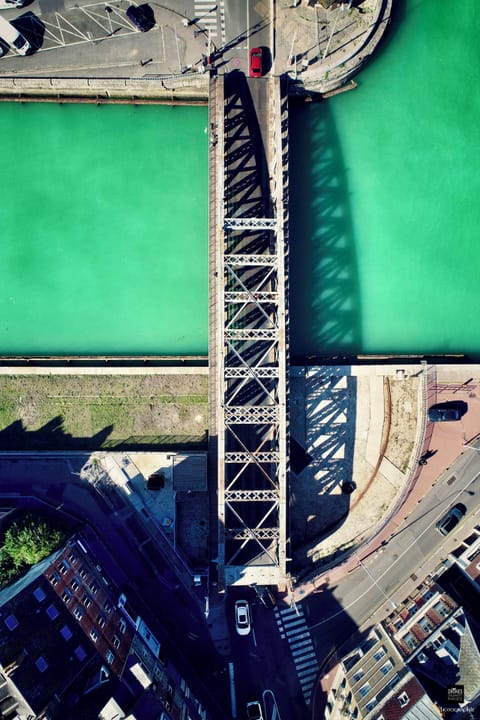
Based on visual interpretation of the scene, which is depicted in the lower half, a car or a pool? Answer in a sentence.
What appears in the lower half is a car.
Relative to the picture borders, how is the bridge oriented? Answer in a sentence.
Seen from above, the bridge lies vertically.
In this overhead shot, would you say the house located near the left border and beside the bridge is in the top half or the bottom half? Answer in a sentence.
It is in the bottom half that the house located near the left border and beside the bridge appears.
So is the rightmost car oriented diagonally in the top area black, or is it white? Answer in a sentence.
In this view, the rightmost car oriented diagonally in the top area is black.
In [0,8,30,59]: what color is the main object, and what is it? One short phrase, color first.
white van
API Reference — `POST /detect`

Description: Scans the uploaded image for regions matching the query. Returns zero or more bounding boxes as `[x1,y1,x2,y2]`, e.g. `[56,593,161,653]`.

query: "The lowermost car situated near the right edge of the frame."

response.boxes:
[435,502,467,536]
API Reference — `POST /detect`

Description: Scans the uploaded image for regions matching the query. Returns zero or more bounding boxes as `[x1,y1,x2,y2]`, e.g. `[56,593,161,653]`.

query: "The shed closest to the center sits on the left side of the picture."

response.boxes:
[172,458,207,494]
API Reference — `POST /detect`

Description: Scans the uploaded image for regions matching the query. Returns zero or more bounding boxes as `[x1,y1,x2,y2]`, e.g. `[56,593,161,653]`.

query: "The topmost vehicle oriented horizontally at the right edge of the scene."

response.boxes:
[429,406,464,423]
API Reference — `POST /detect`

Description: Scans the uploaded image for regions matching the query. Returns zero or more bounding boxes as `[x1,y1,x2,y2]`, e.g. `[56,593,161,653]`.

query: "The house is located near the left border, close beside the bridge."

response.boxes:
[0,539,136,720]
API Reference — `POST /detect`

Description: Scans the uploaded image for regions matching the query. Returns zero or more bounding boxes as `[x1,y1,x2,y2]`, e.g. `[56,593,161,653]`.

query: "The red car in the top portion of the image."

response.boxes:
[249,44,266,77]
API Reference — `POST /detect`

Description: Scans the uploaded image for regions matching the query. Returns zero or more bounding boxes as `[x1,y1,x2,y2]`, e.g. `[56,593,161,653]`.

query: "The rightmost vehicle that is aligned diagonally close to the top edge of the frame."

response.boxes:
[124,0,151,35]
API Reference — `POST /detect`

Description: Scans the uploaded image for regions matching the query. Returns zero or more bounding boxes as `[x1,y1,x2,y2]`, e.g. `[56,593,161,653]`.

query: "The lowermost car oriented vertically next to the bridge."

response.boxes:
[234,601,251,638]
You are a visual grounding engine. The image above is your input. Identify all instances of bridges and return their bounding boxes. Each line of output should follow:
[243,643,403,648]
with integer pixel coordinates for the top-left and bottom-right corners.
[208,72,294,606]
